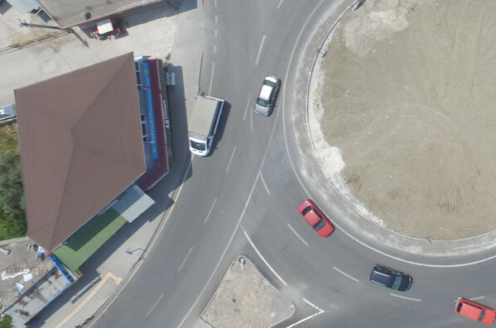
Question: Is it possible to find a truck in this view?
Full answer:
Yes, you can see a truck in this photo.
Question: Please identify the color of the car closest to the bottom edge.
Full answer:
From above, the car closest to the bottom edge appears red.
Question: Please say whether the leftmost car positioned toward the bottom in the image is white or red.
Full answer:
From above, the leftmost car positioned toward the bottom appears red.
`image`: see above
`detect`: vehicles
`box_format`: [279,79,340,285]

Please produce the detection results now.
[256,74,282,117]
[453,297,496,325]
[192,95,226,155]
[370,265,414,292]
[297,199,336,238]
[90,19,123,38]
